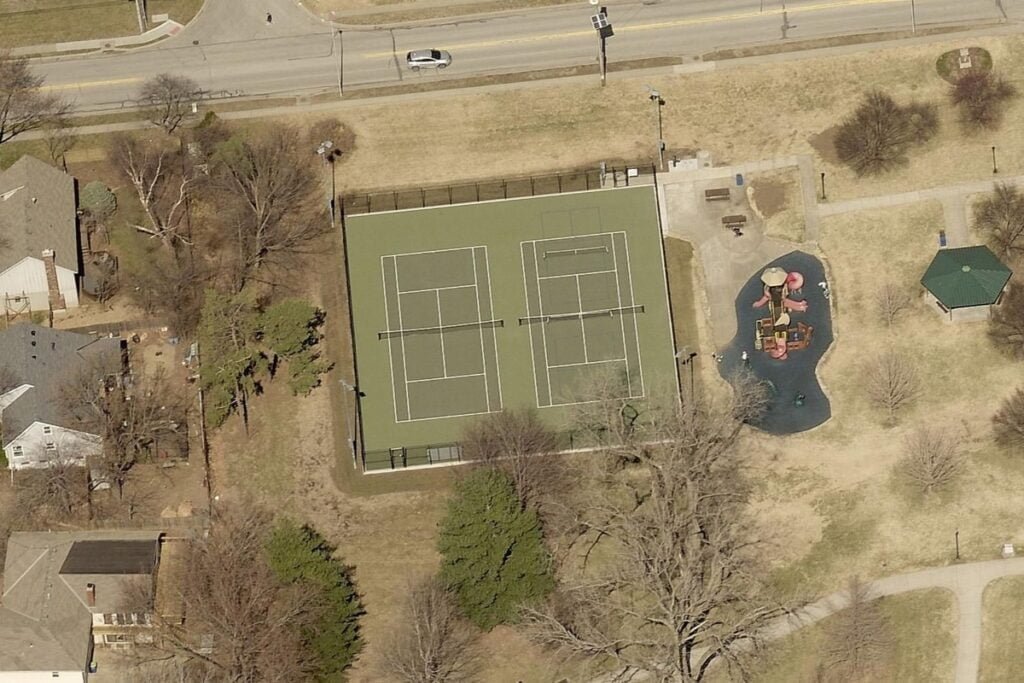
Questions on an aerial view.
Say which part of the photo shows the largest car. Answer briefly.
top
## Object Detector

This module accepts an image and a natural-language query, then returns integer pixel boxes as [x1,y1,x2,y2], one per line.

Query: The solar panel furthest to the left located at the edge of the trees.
[62,541,159,572]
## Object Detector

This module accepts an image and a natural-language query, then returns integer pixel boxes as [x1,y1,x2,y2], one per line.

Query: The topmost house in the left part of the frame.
[0,155,77,310]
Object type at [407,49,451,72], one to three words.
car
